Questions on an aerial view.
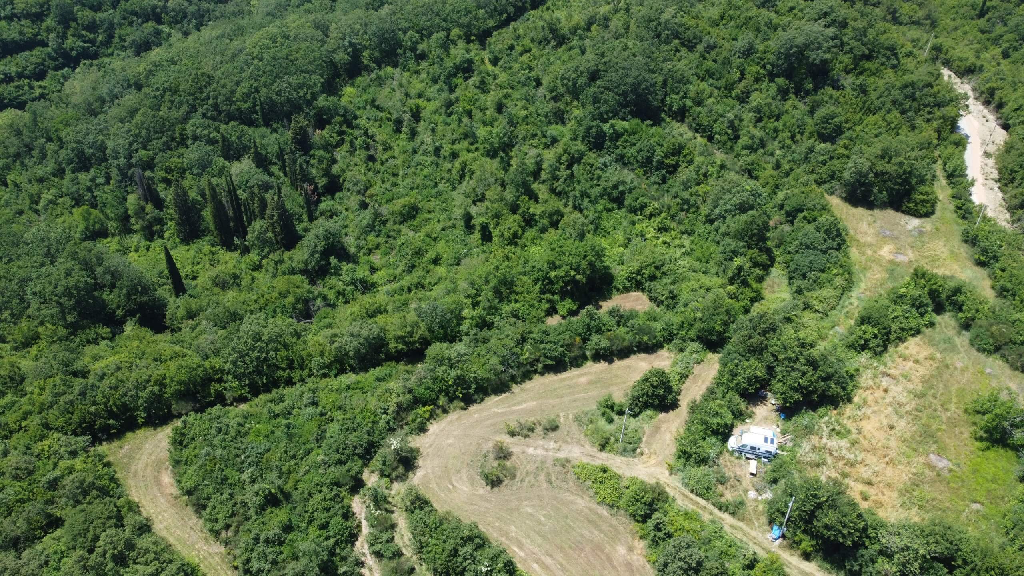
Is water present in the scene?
No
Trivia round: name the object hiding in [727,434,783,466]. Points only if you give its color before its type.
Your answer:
white camper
